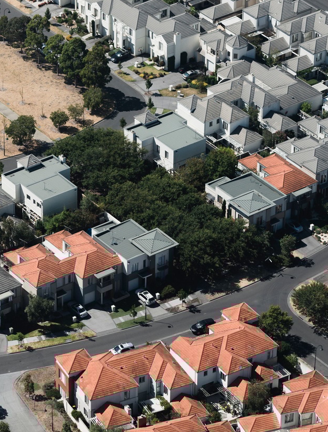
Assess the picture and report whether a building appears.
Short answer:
Yes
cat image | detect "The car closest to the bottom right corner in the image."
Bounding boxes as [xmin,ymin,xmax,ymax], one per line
[189,314,217,330]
